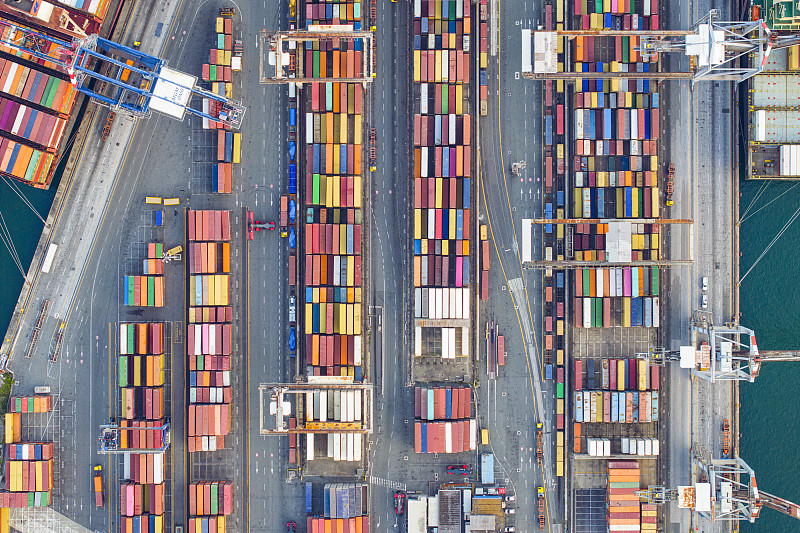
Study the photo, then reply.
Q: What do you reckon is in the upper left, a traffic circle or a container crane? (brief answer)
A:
container crane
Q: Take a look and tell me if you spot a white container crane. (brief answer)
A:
Yes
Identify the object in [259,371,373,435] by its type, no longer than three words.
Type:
container crane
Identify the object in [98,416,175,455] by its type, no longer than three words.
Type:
container crane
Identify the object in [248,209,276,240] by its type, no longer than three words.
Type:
work vehicle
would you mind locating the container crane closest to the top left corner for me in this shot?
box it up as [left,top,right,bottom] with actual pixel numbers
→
[0,15,252,134]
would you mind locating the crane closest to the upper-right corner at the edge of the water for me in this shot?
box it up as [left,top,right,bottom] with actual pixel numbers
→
[639,0,800,92]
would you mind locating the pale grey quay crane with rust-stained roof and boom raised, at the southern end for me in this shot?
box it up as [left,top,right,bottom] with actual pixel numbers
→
[639,431,800,527]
